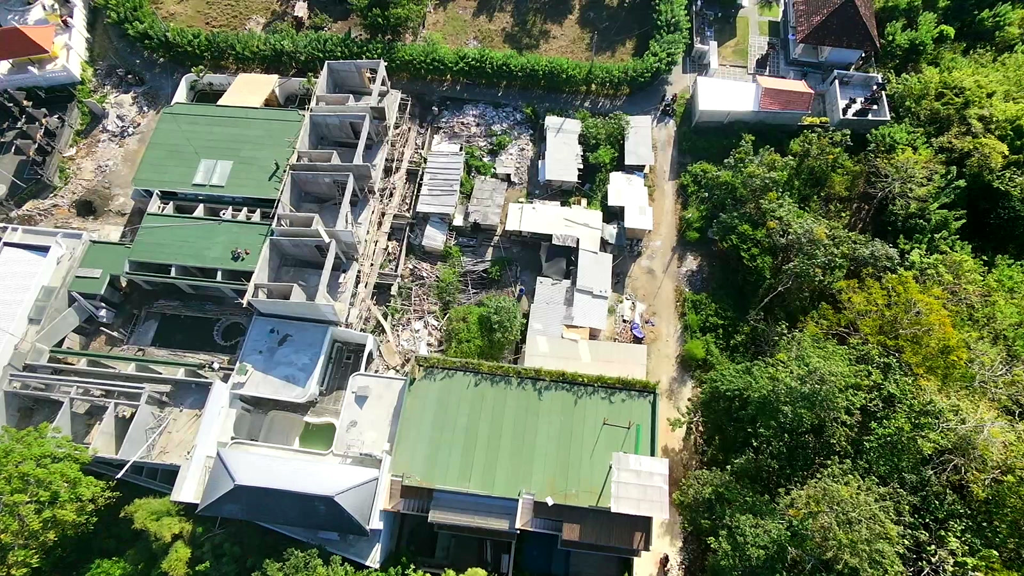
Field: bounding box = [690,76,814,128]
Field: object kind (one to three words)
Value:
building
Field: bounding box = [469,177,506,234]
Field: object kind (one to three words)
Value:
shed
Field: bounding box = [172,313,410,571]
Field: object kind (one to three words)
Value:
house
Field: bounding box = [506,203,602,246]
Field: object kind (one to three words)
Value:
shed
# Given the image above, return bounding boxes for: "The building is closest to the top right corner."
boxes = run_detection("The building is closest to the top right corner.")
[788,0,881,71]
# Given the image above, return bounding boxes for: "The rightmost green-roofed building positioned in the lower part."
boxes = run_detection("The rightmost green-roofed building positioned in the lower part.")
[386,355,659,576]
